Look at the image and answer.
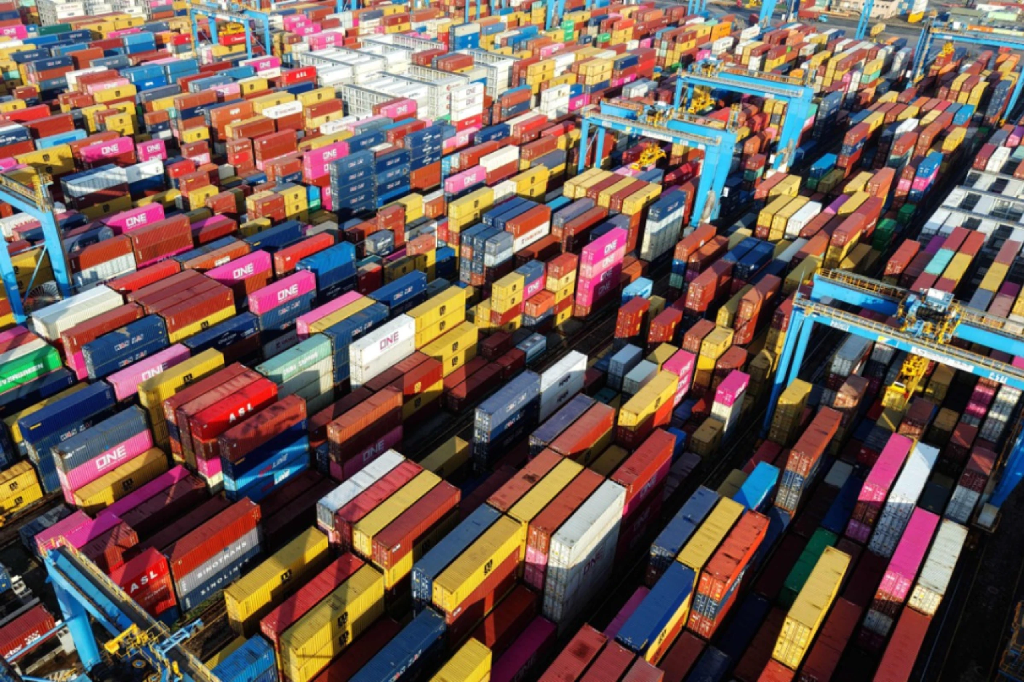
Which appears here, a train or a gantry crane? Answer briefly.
gantry crane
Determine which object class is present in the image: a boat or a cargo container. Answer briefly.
cargo container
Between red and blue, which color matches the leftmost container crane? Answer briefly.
blue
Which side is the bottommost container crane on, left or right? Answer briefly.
left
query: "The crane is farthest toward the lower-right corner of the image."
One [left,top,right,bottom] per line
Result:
[754,272,1024,538]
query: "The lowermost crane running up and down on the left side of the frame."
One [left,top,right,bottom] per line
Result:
[0,169,73,329]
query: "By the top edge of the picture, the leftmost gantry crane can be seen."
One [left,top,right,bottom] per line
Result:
[186,0,282,101]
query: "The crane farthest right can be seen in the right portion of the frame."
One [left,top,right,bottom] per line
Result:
[906,15,1024,120]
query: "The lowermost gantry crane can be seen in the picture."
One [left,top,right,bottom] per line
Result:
[0,529,296,682]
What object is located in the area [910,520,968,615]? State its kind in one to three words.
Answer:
shipping container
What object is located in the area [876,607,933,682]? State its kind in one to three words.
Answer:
shipping container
